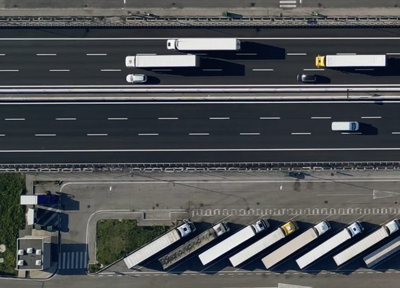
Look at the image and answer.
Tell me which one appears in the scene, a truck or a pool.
truck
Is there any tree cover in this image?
No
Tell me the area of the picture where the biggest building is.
bottom left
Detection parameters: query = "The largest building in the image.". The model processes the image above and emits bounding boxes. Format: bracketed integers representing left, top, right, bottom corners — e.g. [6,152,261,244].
[16,237,50,270]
